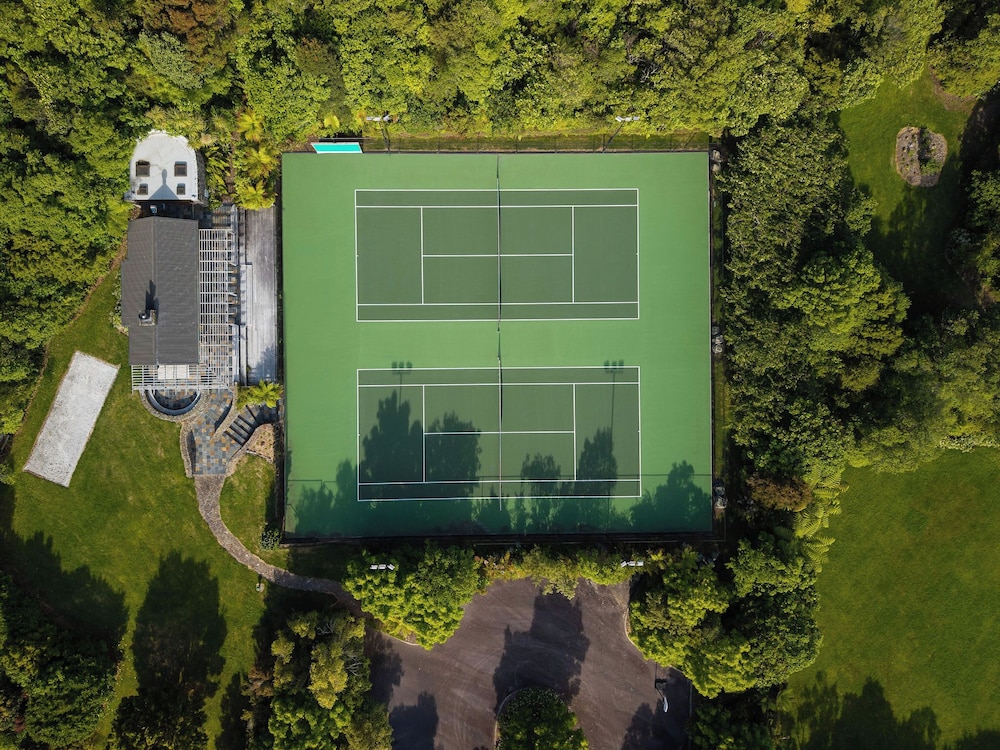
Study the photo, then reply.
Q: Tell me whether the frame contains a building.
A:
Yes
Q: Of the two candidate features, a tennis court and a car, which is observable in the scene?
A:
tennis court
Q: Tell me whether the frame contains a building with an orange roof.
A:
No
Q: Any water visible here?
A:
No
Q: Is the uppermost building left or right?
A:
left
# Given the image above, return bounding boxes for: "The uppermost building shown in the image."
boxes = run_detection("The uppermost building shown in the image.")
[128,130,210,206]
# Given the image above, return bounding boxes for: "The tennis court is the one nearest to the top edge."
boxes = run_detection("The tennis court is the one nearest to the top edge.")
[356,188,640,321]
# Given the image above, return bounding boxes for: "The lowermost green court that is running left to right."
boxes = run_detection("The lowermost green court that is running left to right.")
[357,366,641,500]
